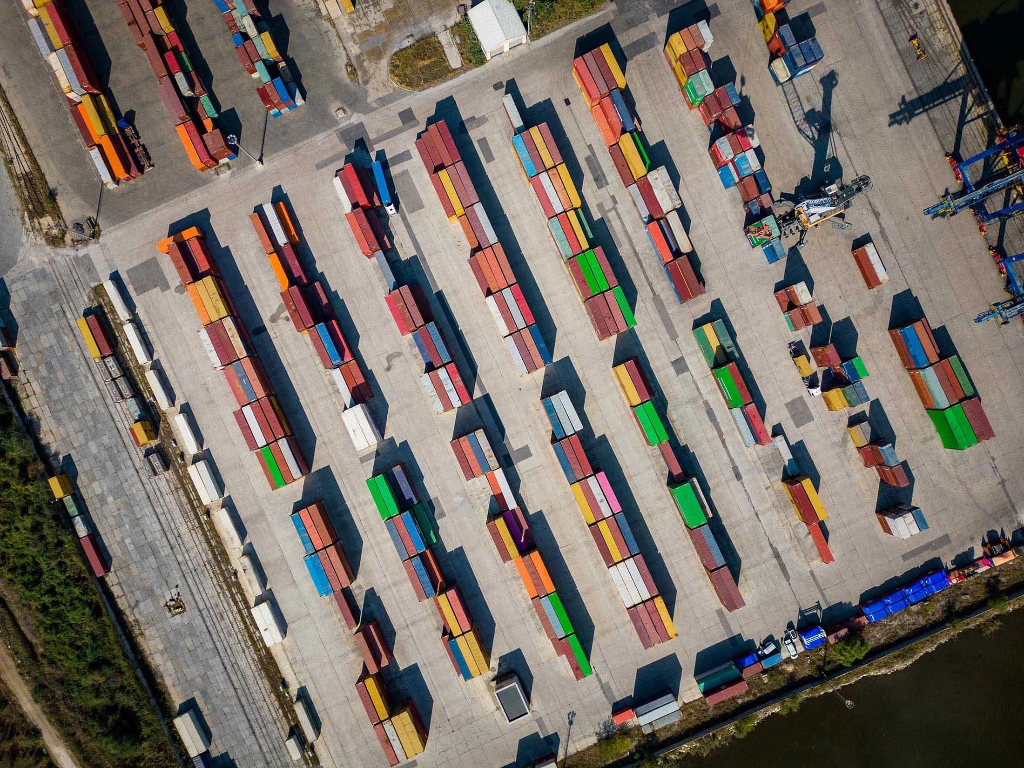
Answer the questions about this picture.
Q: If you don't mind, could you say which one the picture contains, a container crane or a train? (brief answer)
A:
container crane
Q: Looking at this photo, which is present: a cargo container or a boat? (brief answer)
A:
cargo container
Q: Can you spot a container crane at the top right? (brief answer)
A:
Yes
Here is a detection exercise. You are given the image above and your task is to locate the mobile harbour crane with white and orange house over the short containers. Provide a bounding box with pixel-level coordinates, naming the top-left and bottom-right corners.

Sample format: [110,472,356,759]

[764,178,874,247]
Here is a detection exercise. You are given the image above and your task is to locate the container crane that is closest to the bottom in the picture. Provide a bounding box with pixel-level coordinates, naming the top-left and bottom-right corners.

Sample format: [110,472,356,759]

[970,246,1024,326]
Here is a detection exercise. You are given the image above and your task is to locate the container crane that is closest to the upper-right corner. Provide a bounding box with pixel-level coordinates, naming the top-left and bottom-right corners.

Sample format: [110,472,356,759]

[920,130,1024,237]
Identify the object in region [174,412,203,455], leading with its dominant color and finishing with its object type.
white shipping container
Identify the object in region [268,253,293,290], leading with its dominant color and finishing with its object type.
orange shipping container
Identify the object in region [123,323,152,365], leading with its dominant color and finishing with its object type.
white shipping container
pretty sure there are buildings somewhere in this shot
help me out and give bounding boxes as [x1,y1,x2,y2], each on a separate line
[495,676,530,724]
[468,0,528,57]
